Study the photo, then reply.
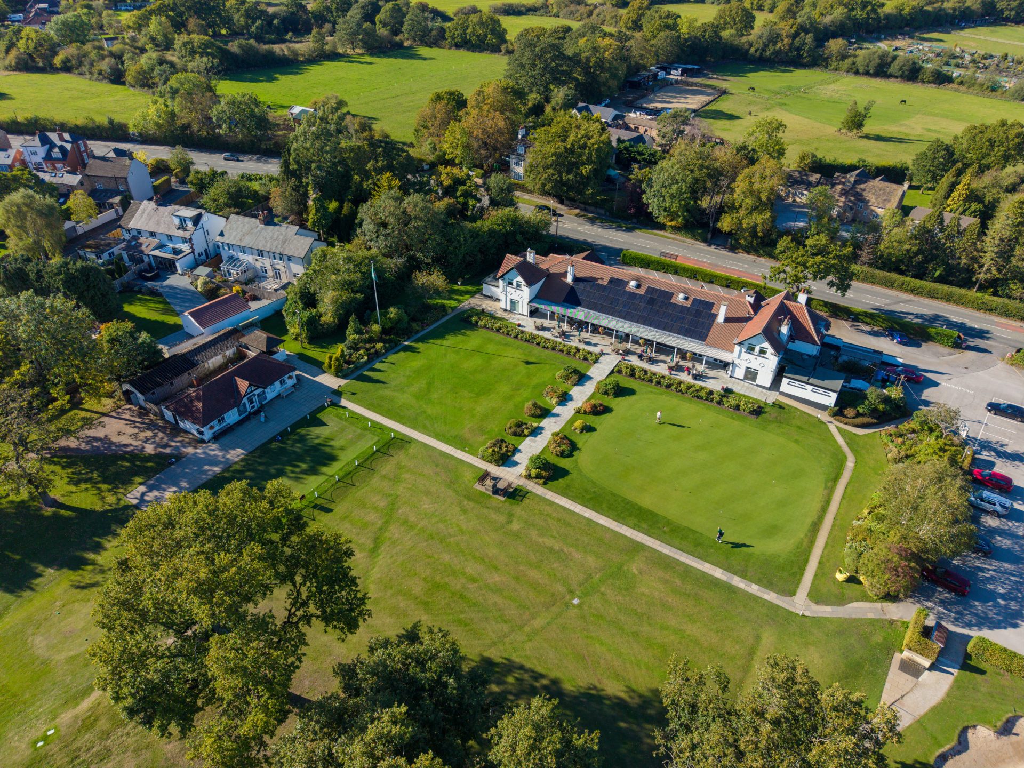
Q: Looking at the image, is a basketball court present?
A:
No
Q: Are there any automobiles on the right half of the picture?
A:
Yes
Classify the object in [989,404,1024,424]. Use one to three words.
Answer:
car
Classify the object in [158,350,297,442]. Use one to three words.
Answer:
building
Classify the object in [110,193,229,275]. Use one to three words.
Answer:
house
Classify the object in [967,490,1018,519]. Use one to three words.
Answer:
car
